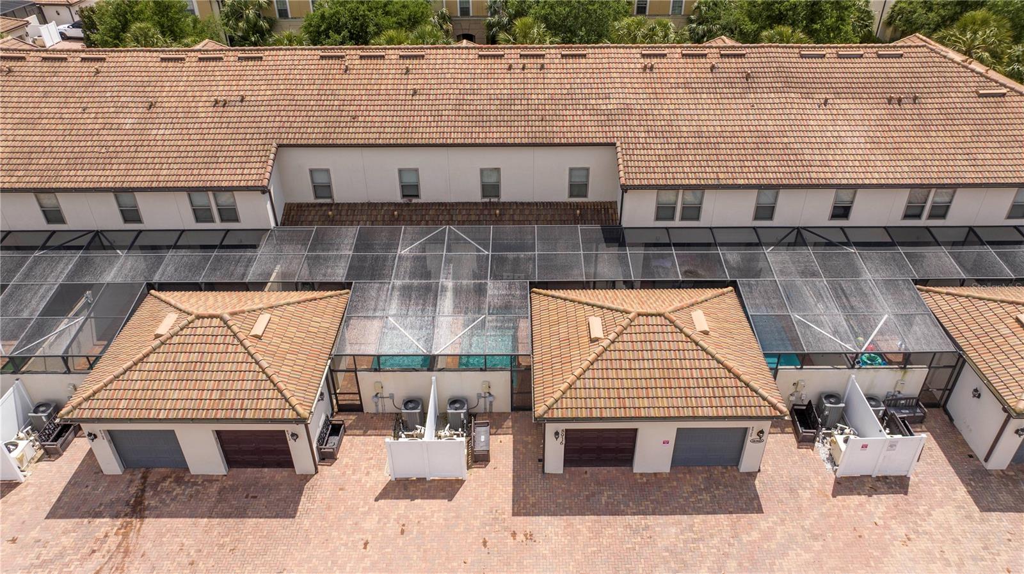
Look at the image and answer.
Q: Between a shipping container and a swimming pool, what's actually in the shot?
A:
swimming pool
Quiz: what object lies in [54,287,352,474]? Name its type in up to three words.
building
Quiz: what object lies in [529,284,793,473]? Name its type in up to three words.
building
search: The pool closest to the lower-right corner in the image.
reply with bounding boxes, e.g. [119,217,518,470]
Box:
[765,354,810,376]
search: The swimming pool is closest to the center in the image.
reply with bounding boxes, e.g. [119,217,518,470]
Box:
[452,317,522,394]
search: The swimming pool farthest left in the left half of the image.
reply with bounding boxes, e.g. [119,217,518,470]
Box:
[365,320,435,371]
